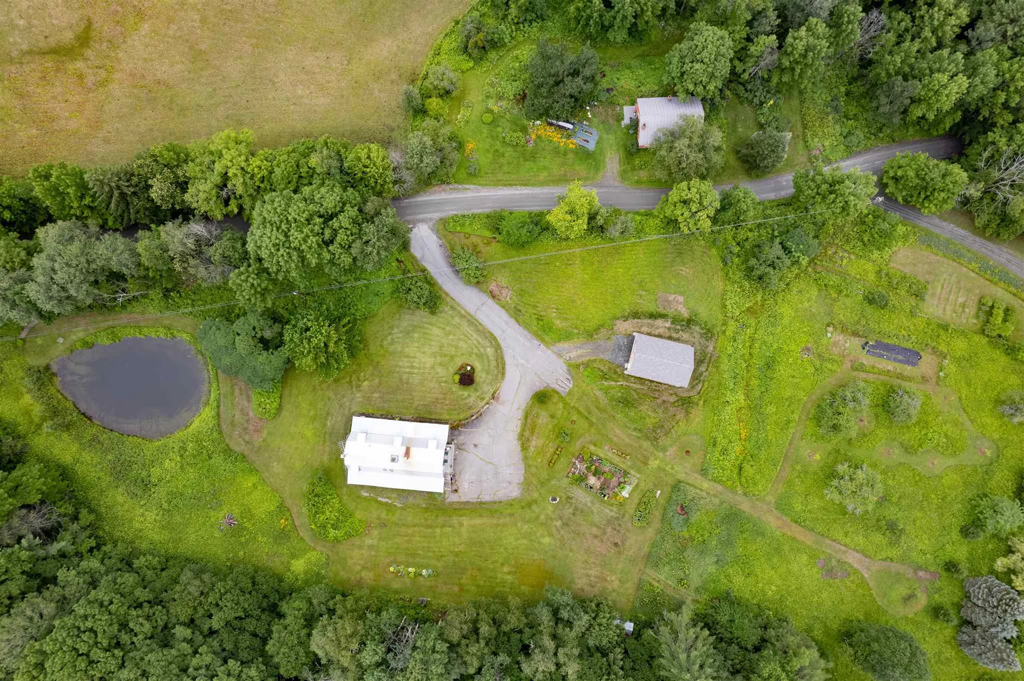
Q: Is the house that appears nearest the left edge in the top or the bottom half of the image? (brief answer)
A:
bottom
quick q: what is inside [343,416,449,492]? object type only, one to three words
house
